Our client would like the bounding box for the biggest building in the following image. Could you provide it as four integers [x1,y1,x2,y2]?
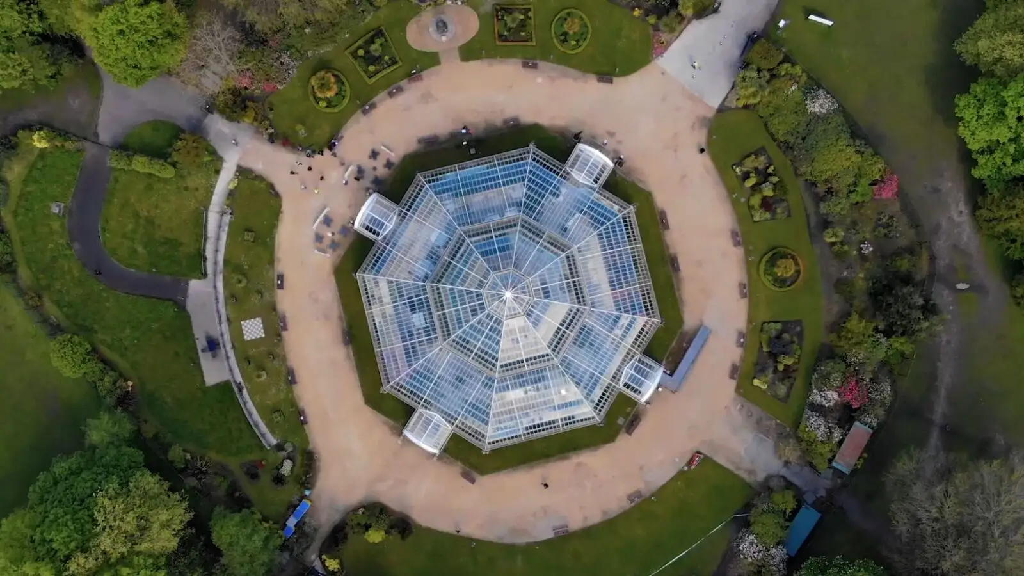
[352,142,667,458]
